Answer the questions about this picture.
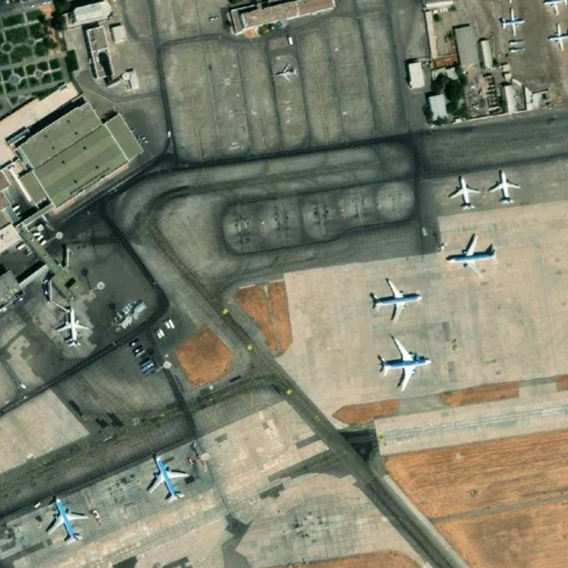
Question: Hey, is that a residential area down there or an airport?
airport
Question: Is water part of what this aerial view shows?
No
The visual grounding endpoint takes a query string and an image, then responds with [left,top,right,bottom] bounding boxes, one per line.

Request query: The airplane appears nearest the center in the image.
[372,279,421,322]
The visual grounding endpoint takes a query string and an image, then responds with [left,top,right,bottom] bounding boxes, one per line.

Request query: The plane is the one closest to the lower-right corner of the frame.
[380,338,432,390]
